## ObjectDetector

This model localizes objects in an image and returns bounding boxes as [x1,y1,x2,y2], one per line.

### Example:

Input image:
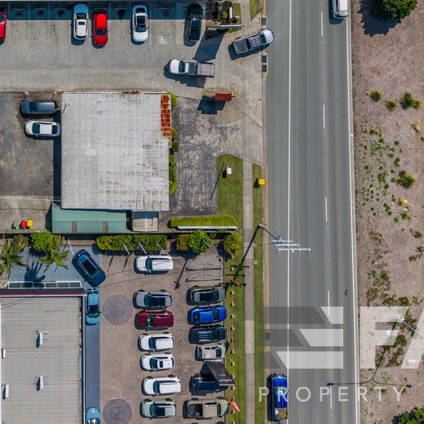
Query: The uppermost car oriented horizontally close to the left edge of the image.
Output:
[20,98,58,116]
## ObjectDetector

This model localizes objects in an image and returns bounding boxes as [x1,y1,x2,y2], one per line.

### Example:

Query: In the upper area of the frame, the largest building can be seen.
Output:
[62,91,171,209]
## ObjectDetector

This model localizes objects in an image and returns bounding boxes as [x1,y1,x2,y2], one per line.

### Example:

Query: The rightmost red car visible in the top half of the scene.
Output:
[91,9,109,48]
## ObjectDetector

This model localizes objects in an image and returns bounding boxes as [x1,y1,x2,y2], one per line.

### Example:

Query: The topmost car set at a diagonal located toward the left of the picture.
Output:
[72,248,105,288]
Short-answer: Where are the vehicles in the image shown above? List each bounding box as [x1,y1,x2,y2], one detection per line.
[132,4,150,44]
[85,287,103,325]
[189,325,227,345]
[186,286,226,307]
[184,397,228,419]
[72,2,91,41]
[140,352,175,372]
[188,305,226,325]
[141,375,183,396]
[85,410,101,424]
[135,255,174,274]
[24,120,61,138]
[169,58,215,79]
[0,6,9,43]
[133,290,173,310]
[185,3,205,41]
[196,342,227,362]
[91,9,109,48]
[72,248,105,288]
[230,27,275,56]
[135,310,175,332]
[137,333,176,353]
[329,0,347,18]
[20,98,58,116]
[189,373,228,394]
[141,398,177,419]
